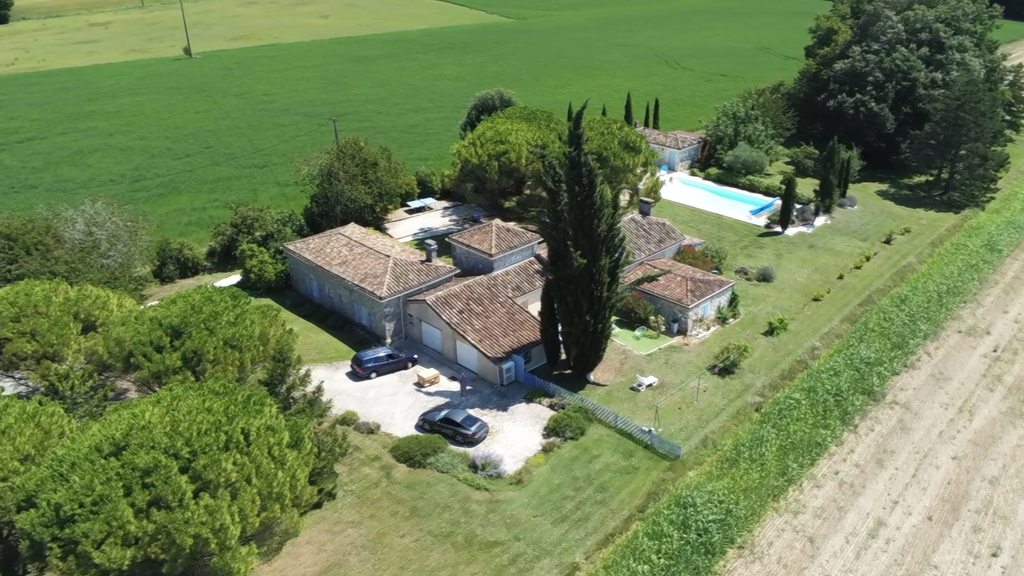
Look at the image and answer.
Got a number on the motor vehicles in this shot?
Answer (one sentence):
The photo contains 2 motor vehicles.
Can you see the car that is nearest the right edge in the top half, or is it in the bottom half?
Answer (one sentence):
Seen from above, the car that is nearest the right edge lies in the bottom half of the view.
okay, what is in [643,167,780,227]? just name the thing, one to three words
swimming pool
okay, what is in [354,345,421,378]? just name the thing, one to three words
car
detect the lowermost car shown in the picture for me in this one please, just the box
[417,406,486,445]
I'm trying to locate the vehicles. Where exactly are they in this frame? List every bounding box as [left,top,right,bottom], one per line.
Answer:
[354,345,421,378]
[417,406,486,445]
